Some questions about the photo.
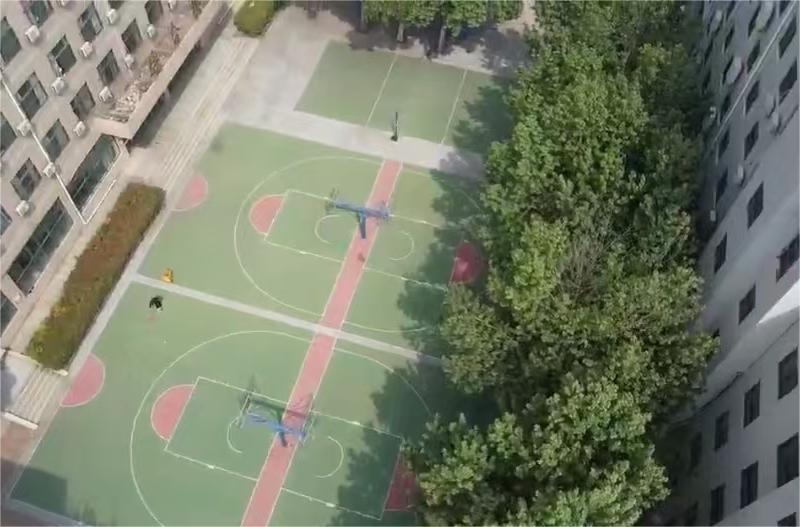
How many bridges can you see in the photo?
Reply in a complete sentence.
No bridges are visible.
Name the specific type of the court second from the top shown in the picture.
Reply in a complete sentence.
In the photo, the court second from the top shows up as a basketball court.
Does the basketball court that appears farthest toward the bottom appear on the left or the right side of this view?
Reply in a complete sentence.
It is on the left.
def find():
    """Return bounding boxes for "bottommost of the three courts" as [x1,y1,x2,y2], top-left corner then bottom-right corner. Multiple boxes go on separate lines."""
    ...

[10,281,498,527]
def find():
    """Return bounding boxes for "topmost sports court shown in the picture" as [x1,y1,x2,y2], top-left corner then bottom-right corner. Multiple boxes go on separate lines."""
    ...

[295,39,565,169]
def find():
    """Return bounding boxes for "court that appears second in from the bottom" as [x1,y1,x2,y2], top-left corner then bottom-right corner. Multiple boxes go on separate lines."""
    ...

[138,121,542,361]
